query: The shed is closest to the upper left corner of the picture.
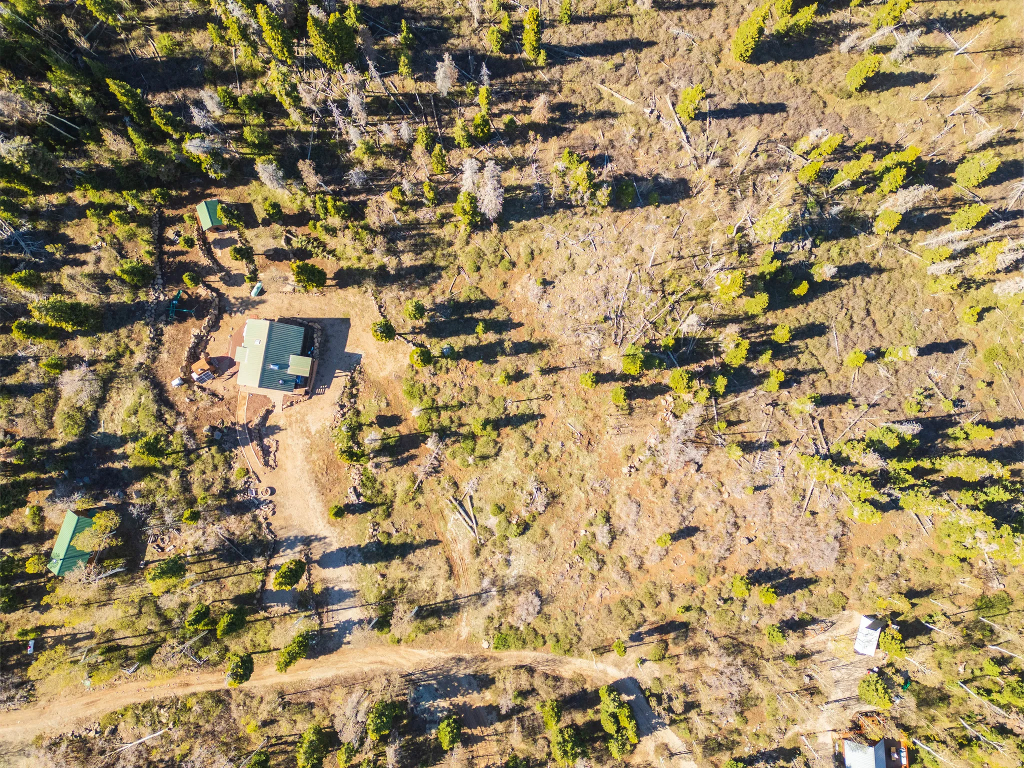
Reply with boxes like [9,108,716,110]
[196,200,230,233]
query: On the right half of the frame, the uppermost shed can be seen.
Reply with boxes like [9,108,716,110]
[850,613,887,654]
